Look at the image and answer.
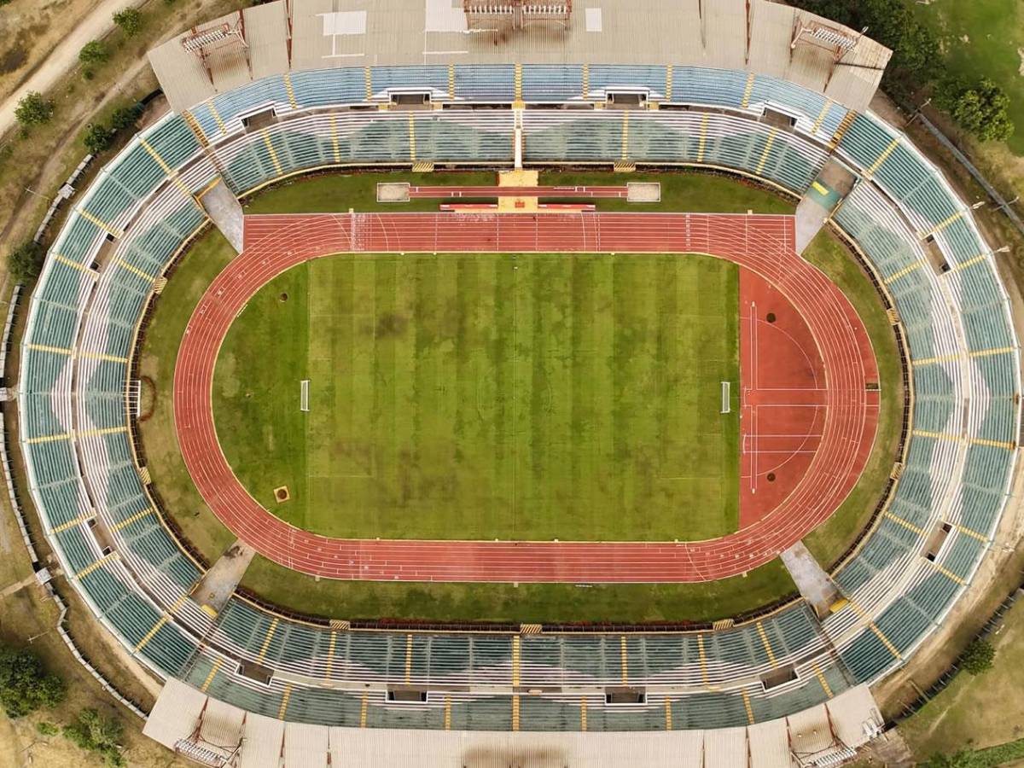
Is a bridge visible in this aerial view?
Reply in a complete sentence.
Yes, the photo shows a bridge.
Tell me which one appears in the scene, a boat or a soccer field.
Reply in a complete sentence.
It is a soccer field that can be seen here.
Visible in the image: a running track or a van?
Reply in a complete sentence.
This aerial view contains a running track.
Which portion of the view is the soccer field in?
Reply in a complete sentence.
You can find the soccer field in the center area of the picture.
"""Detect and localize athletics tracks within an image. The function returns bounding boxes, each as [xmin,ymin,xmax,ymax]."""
[172,213,880,581]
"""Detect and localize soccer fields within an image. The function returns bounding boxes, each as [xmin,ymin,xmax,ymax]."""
[212,253,739,541]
